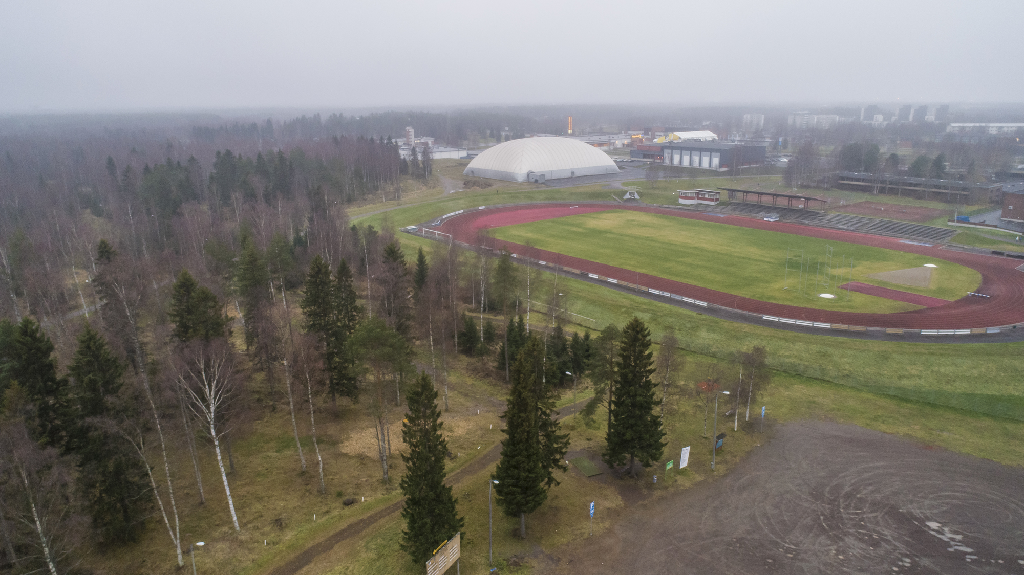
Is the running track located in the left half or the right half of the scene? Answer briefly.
right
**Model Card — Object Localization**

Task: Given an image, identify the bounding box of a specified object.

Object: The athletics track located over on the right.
[440,202,1024,328]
